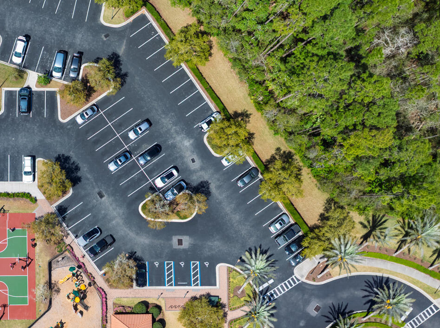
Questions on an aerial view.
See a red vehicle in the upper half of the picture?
No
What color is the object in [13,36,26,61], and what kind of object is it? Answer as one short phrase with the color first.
white vehicle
